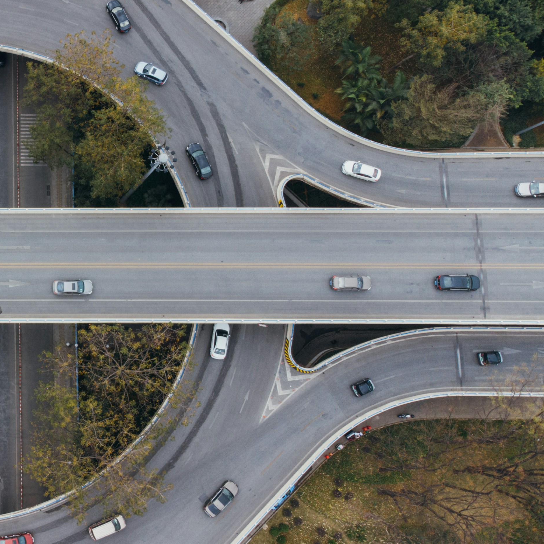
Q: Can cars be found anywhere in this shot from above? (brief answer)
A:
Yes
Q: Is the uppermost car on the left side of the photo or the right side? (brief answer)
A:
left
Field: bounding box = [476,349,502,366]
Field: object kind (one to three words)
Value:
car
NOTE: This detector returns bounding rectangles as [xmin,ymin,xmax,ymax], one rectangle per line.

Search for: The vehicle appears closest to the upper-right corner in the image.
[514,180,544,198]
